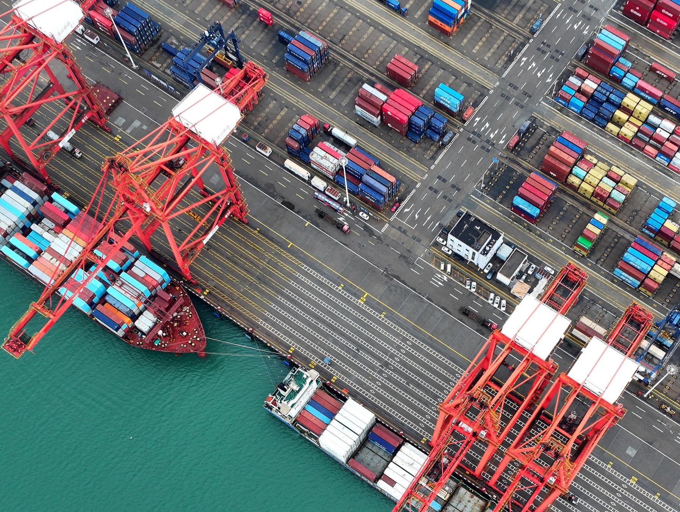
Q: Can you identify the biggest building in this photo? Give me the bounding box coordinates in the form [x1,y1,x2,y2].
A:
[447,210,504,268]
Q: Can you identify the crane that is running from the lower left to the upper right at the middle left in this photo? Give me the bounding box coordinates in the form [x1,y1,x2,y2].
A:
[0,61,270,376]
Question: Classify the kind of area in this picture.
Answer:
port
